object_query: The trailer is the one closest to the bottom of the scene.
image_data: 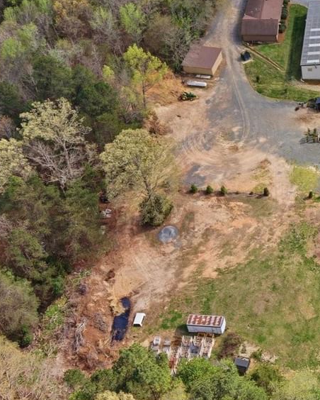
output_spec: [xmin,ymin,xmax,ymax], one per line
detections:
[186,312,225,334]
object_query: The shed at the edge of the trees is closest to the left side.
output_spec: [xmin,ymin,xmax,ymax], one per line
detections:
[179,41,225,75]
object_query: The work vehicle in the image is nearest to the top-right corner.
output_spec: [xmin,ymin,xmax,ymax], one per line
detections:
[174,91,193,103]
